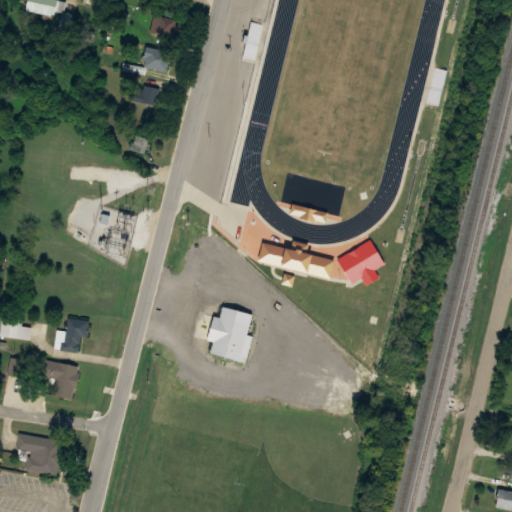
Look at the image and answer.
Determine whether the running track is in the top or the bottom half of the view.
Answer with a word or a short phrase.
top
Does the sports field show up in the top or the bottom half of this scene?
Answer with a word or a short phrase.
top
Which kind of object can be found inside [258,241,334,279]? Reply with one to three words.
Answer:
building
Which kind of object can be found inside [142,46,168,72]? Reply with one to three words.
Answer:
house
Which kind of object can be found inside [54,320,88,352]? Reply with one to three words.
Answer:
house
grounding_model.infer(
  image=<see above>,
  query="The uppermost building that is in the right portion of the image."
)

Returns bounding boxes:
[290,204,328,224]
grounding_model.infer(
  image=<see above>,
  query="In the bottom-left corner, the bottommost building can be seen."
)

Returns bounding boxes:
[16,434,58,476]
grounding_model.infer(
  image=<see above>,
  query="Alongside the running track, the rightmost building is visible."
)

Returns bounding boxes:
[338,240,385,286]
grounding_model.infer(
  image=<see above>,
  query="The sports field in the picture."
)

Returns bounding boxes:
[260,0,426,226]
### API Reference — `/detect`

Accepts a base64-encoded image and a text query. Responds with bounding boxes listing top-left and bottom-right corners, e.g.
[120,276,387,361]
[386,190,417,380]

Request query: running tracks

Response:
[230,0,444,244]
